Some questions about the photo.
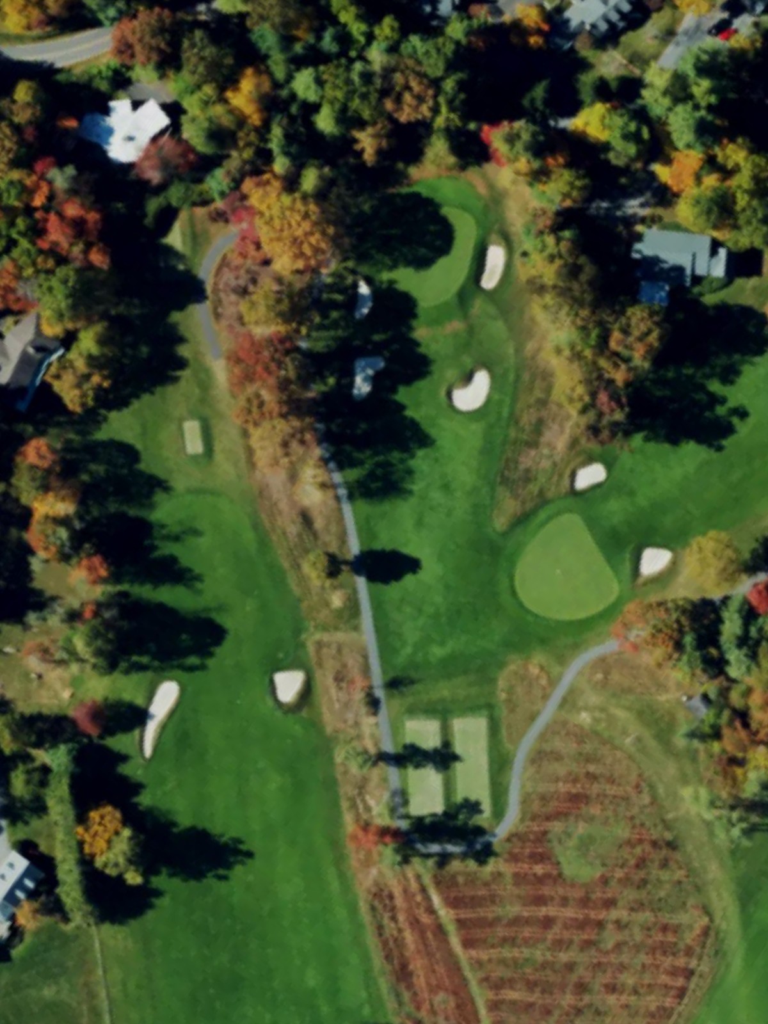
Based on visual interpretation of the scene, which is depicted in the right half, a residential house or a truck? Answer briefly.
residential house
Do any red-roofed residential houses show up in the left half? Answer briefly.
No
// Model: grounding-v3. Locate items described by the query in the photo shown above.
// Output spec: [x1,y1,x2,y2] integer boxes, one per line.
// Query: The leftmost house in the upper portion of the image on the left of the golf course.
[0,317,60,412]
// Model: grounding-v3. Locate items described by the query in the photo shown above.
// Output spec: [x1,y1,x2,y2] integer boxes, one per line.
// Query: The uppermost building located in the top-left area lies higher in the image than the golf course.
[76,94,172,163]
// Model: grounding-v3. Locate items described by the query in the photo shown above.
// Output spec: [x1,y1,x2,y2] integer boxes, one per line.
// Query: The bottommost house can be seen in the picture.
[0,848,49,927]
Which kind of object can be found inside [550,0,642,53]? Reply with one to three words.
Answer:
house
